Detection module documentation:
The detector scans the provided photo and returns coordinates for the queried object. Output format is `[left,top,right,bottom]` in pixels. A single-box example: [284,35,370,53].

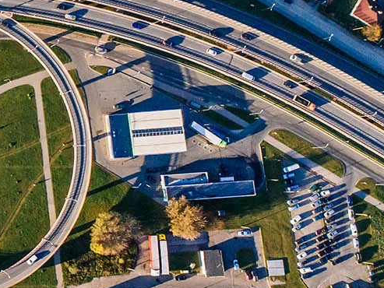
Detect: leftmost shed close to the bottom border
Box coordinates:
[198,249,225,277]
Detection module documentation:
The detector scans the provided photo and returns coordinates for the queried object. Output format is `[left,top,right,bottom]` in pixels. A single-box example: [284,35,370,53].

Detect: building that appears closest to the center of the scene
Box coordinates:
[157,173,256,201]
